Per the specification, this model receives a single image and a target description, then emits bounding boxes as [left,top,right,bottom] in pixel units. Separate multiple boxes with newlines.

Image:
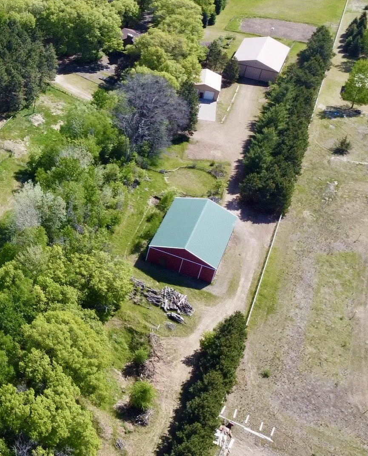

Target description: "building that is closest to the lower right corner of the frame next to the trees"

[146,197,239,284]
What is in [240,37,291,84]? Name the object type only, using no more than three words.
barn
